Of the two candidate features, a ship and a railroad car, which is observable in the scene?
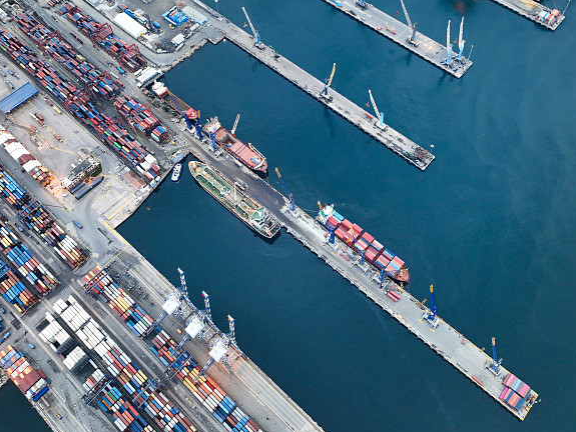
ship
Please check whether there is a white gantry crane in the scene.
Yes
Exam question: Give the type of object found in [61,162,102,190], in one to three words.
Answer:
building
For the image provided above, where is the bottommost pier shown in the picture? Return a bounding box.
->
[208,151,538,421]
